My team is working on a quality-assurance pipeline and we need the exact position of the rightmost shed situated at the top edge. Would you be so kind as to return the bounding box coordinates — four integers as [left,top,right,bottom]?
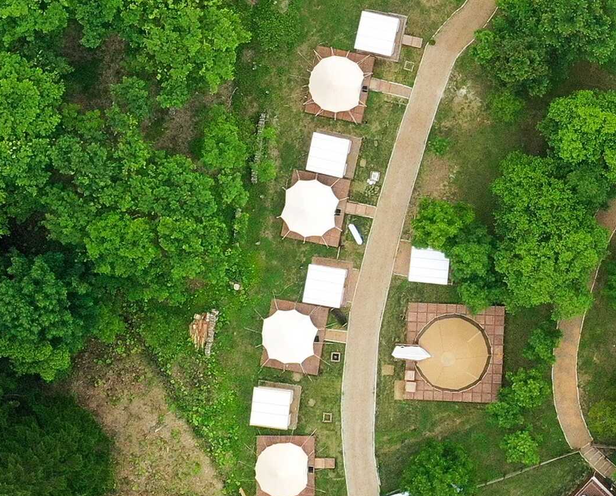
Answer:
[354,11,407,61]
